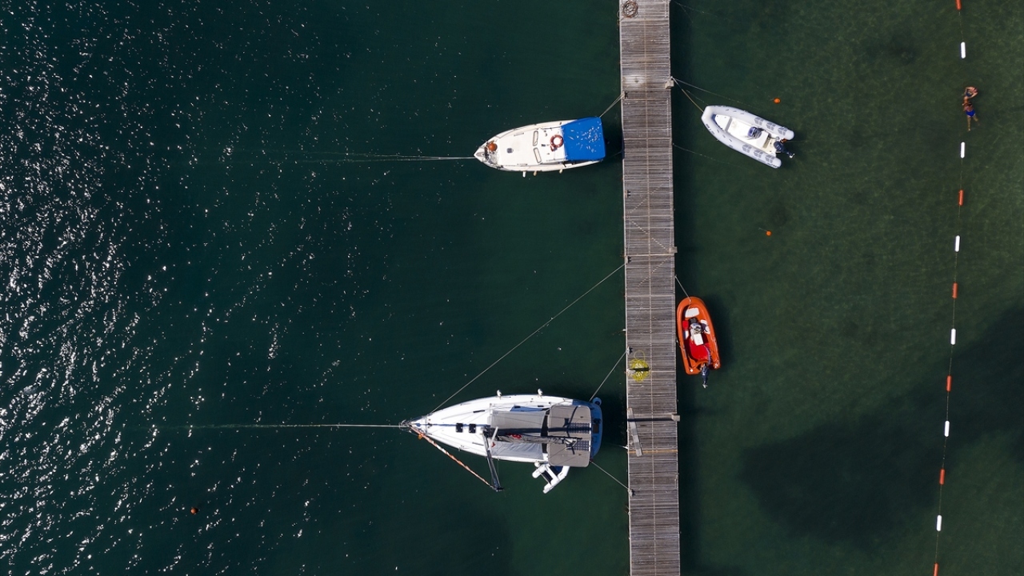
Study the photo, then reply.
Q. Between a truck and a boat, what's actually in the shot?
boat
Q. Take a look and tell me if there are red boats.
Yes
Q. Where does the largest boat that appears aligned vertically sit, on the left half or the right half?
right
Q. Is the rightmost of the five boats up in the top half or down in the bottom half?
top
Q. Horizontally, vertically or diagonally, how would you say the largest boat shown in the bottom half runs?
horizontally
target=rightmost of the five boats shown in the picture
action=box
[703,104,798,168]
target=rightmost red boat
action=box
[677,297,720,390]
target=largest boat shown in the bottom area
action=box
[404,393,603,493]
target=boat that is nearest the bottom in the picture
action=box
[532,462,571,493]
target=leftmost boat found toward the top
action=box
[472,117,606,173]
